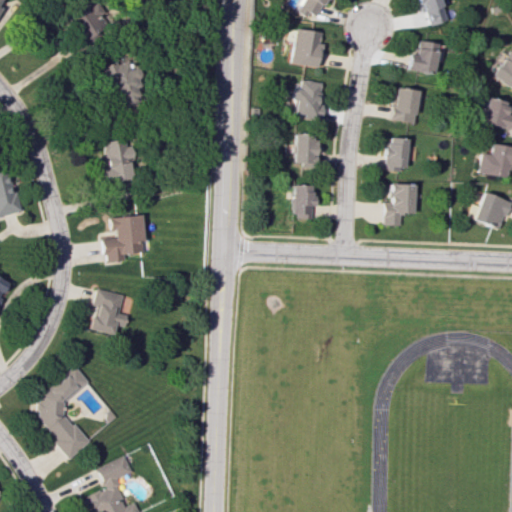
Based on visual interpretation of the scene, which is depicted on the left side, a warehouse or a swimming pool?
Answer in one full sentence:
What appears on the left side is a swimming pool.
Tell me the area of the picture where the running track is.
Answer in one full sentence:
The running track sits in the bottom right section of the image.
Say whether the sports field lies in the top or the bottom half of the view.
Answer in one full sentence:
Seen from above, the sports field lies in the bottom half of the view.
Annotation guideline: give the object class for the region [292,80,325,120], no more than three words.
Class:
house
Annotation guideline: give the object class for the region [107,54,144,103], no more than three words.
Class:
house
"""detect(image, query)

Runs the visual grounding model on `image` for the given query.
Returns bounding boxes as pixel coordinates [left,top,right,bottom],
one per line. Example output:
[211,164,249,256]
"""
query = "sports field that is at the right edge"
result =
[388,354,512,512]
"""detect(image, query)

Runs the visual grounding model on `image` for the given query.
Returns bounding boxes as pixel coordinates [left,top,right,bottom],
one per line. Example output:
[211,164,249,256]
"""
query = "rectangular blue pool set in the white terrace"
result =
[78,390,102,414]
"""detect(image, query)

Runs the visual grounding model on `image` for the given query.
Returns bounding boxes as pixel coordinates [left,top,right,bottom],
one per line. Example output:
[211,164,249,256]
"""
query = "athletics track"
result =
[371,331,512,512]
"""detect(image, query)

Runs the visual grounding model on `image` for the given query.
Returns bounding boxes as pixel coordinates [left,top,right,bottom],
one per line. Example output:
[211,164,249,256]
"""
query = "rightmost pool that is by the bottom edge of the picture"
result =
[127,480,148,501]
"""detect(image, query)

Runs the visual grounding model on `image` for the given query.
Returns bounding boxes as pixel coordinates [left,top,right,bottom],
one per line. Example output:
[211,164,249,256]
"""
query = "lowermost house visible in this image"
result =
[90,454,140,512]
